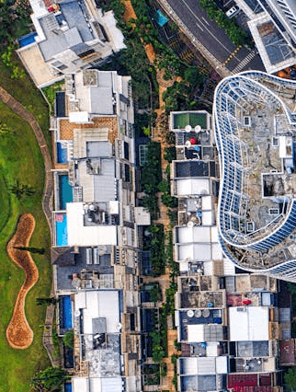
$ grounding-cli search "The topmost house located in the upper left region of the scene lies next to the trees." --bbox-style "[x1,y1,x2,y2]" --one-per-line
[15,0,128,92]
